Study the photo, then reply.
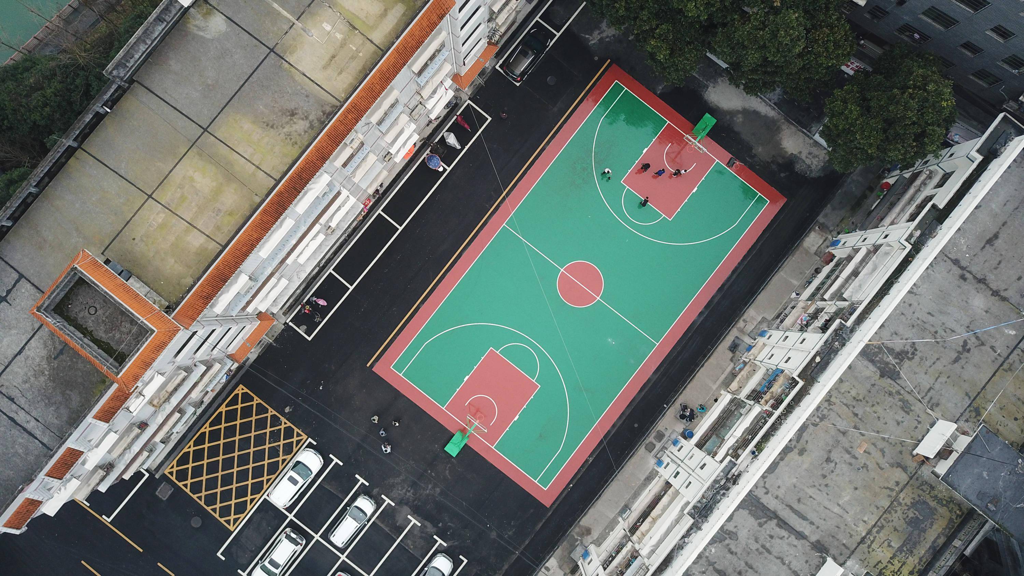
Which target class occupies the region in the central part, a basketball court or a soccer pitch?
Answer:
basketball court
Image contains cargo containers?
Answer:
No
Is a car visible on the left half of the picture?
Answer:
Yes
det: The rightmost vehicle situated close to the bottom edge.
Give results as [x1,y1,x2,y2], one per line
[418,553,452,576]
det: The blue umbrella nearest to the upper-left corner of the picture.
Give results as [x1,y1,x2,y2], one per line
[425,153,442,170]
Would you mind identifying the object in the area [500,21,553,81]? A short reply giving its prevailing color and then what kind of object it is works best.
black car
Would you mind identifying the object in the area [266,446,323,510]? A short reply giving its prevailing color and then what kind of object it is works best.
white car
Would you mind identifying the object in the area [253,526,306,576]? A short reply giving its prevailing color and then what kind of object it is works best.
white car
